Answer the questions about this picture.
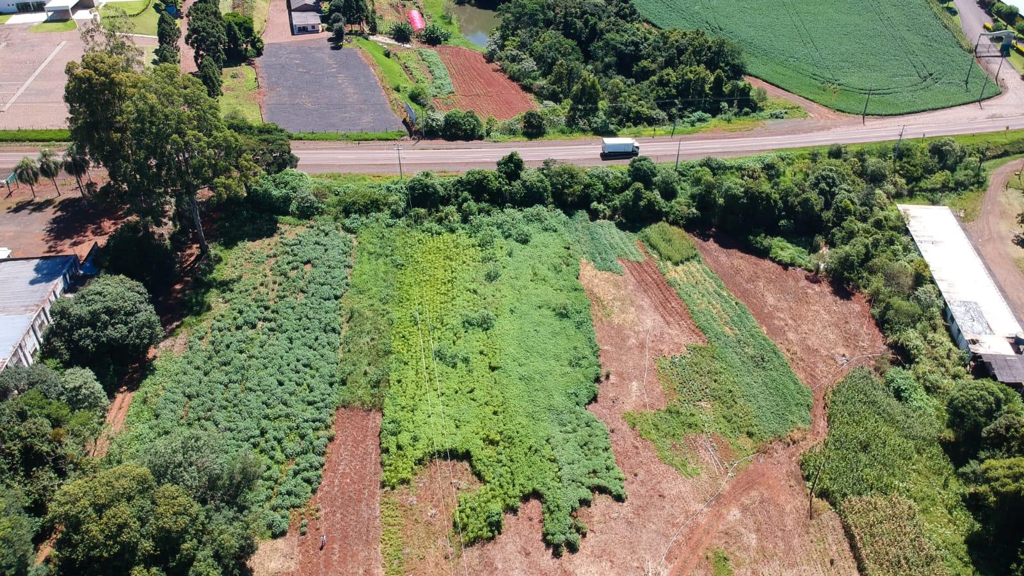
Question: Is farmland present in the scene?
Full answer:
Yes, farmland can be seen from above here.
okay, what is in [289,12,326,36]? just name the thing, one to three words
house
